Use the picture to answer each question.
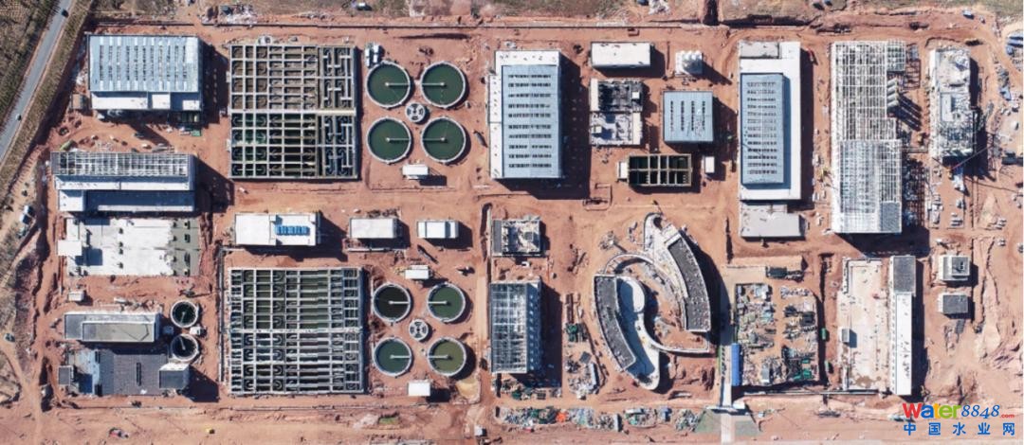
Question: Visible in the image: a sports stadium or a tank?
tank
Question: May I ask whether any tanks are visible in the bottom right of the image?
No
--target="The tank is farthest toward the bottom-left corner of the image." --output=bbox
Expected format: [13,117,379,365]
[170,332,202,362]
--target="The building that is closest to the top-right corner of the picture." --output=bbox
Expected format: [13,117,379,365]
[922,50,977,154]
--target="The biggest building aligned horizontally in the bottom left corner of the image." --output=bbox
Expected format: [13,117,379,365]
[69,349,178,395]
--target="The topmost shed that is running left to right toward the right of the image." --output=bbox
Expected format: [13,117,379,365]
[591,43,651,69]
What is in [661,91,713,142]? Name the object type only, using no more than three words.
building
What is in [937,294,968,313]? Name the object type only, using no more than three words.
shed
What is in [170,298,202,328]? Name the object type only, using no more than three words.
storage tank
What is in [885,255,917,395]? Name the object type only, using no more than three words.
building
